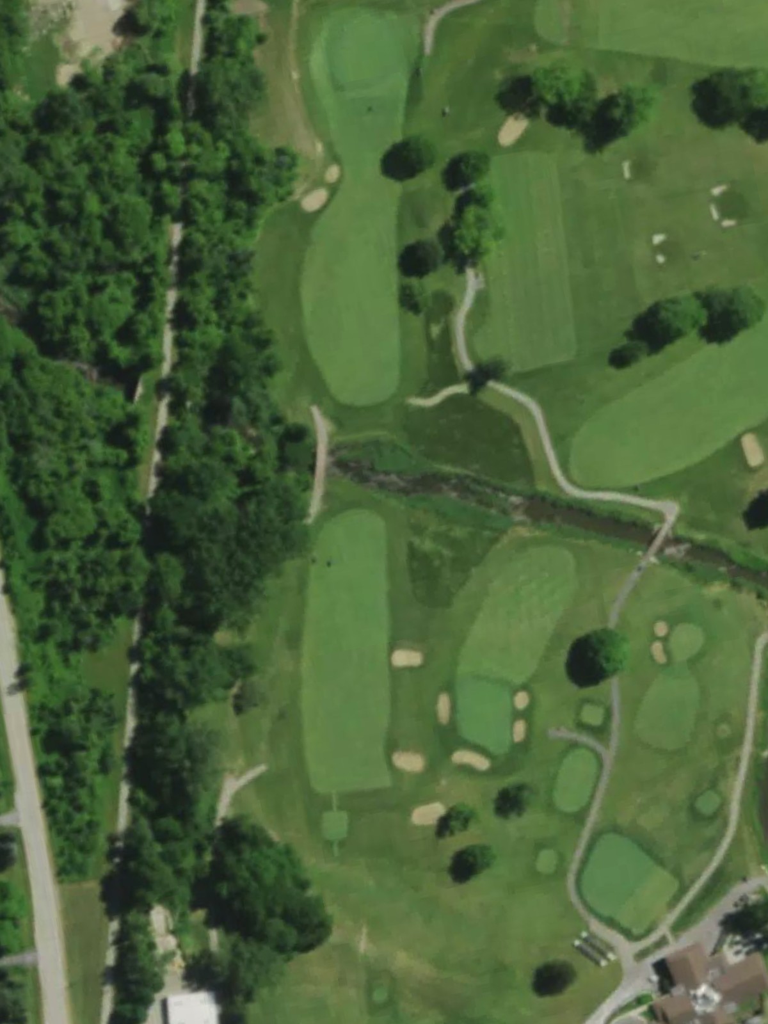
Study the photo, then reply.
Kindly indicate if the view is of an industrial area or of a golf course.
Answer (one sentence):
It's a golf course.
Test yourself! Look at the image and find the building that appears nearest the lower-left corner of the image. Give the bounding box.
[167,991,217,1024]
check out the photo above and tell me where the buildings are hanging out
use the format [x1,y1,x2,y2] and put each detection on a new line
[167,991,217,1024]
[648,941,768,1024]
